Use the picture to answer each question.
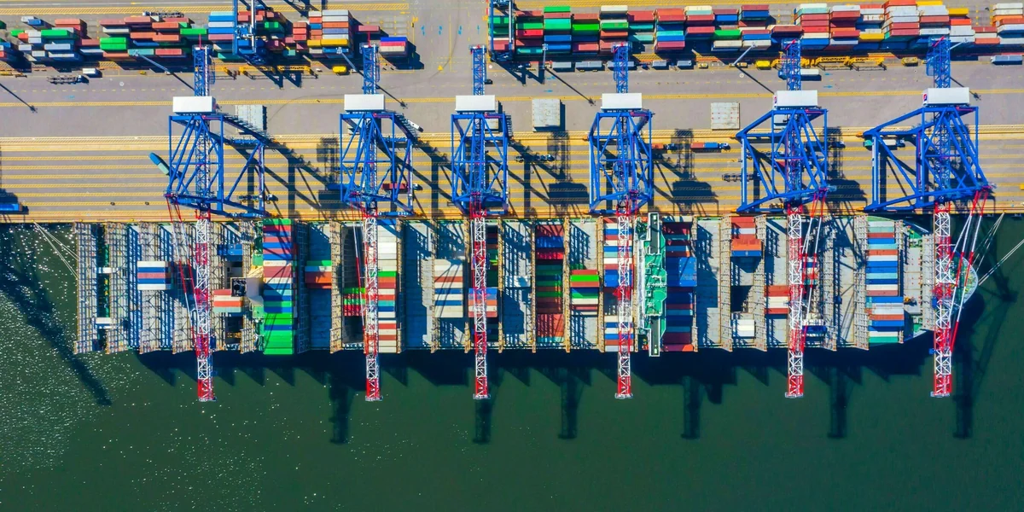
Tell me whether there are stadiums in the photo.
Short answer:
No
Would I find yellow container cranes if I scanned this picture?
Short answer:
No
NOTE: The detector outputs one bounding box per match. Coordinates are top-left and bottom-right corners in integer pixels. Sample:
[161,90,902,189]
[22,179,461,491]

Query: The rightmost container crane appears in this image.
[848,33,1001,400]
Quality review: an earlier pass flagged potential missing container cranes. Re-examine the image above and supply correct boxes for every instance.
[449,40,519,403]
[722,35,838,401]
[231,0,275,57]
[339,43,426,403]
[575,38,658,401]
[848,33,1001,400]
[159,44,282,404]
[489,0,518,58]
